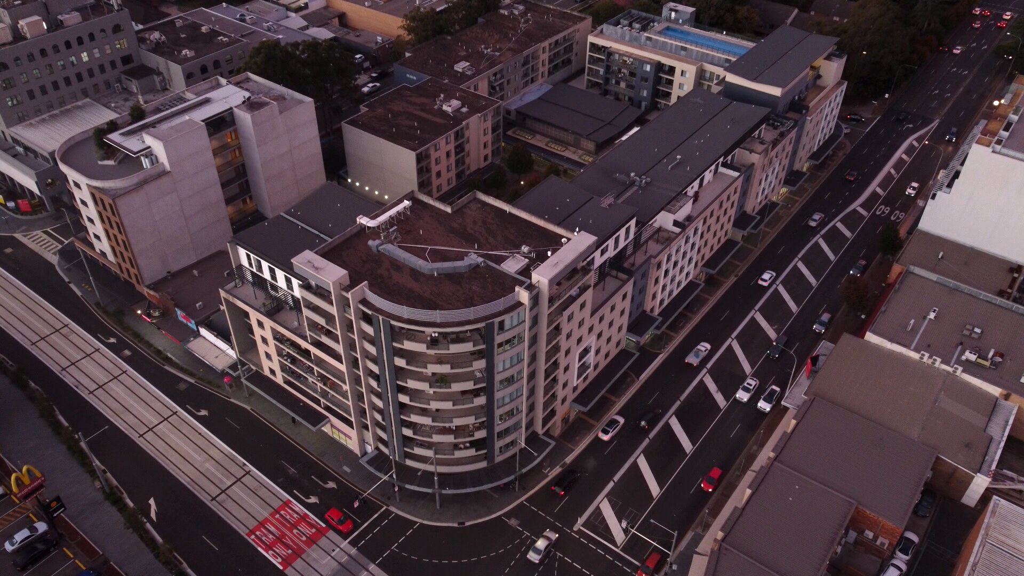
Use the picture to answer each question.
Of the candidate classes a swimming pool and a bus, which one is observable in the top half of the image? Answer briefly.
swimming pool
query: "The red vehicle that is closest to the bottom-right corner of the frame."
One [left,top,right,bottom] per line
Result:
[700,465,726,495]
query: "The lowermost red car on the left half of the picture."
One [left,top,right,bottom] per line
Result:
[322,507,355,535]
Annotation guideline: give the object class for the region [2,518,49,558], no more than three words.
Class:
car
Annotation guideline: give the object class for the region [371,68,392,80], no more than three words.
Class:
vehicle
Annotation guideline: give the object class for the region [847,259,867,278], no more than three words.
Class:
car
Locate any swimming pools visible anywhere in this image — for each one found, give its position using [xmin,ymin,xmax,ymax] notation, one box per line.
[650,26,746,57]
